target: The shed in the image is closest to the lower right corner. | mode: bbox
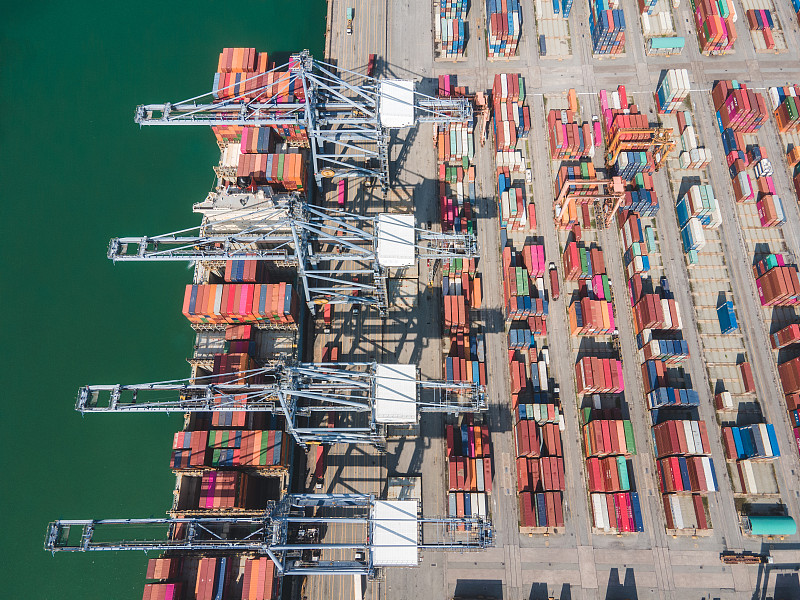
[738,514,797,535]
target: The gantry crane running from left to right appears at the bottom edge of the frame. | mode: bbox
[42,482,496,588]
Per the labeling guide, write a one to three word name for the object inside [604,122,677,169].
container crane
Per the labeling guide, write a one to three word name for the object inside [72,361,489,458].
container crane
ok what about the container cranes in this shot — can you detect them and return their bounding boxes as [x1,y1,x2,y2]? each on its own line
[431,92,488,141]
[72,361,489,458]
[104,195,481,324]
[552,177,623,223]
[604,122,677,169]
[42,482,496,588]
[134,48,473,202]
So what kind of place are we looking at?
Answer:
port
